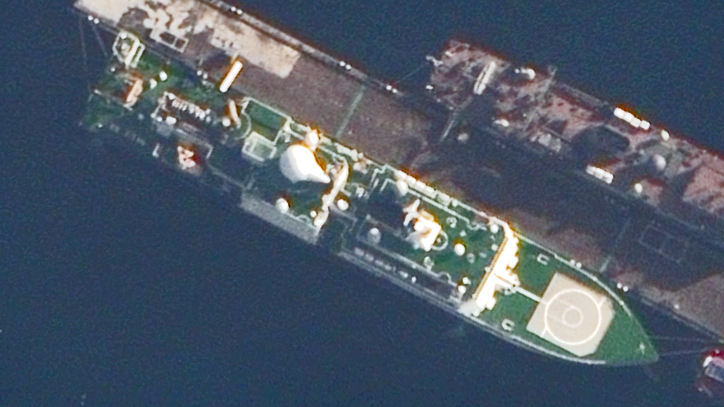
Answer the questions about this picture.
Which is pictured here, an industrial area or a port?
port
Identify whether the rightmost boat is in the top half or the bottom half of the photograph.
bottom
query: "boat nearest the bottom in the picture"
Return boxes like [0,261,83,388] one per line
[698,346,724,397]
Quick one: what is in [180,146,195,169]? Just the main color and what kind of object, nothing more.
white boat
